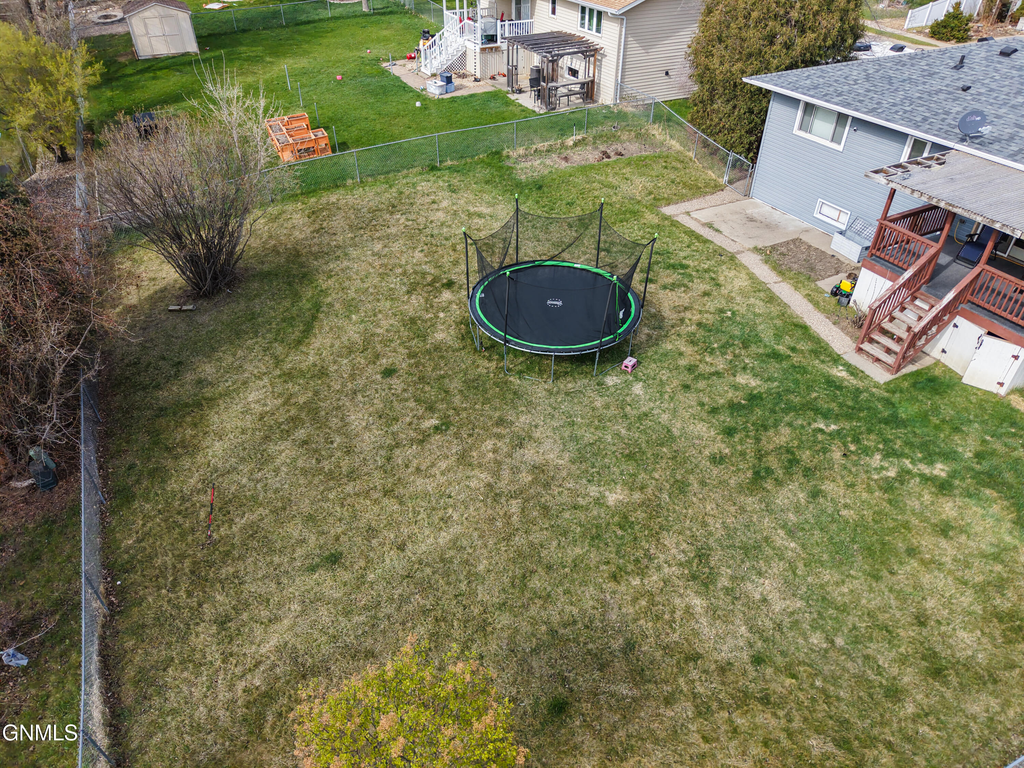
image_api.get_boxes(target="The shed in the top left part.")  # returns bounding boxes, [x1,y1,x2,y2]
[123,0,198,60]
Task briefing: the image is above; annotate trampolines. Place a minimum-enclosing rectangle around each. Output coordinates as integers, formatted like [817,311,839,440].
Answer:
[461,191,658,383]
